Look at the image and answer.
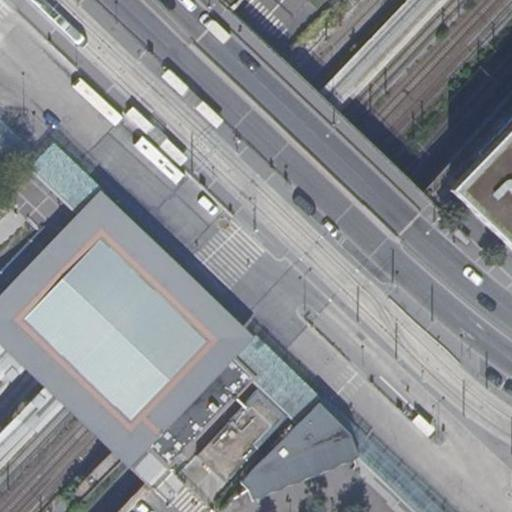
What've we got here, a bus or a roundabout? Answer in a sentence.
I can see a bus in this picture.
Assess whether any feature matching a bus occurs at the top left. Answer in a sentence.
Yes, a bus appears at the top left.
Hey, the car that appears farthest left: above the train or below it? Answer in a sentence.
The car that appears farthest left is found below the train in the photo.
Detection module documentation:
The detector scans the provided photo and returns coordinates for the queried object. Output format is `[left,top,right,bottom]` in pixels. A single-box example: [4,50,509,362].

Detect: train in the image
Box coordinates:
[28,0,84,44]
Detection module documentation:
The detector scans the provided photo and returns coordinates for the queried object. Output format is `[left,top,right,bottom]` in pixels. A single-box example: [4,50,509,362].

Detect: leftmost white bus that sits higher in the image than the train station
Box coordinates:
[72,76,126,128]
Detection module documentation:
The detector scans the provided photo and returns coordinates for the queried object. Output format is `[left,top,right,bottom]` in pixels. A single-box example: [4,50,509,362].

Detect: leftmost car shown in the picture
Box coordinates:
[42,109,62,129]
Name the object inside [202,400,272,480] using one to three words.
building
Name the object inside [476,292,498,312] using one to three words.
car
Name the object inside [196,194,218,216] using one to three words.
vehicle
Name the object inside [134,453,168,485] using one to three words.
building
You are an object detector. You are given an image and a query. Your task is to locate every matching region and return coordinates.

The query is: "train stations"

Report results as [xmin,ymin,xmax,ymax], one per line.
[0,191,250,468]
